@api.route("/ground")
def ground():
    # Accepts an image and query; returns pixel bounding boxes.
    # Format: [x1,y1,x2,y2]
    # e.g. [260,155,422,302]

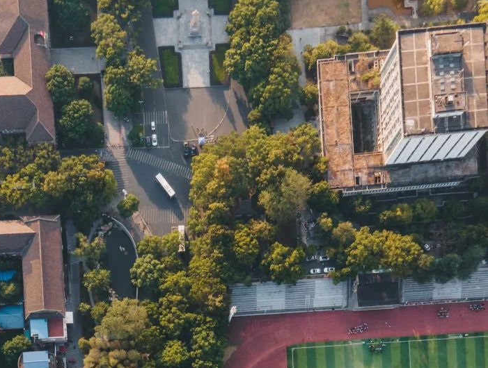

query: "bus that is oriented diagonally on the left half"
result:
[154,170,176,199]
